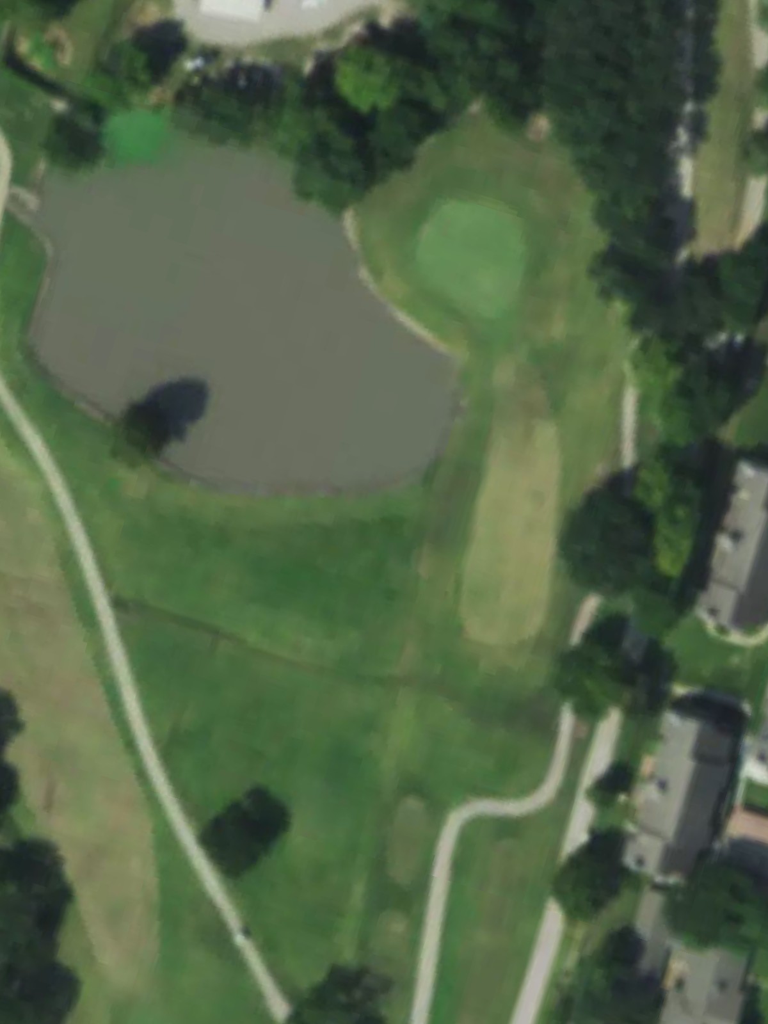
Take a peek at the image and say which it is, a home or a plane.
home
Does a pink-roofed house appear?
No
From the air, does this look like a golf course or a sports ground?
golf course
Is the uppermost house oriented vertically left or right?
right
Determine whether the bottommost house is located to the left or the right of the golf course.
right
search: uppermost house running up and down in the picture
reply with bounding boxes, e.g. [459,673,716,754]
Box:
[693,459,768,634]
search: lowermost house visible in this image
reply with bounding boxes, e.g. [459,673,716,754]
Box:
[653,935,748,1024]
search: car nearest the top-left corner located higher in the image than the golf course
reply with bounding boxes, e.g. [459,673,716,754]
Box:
[182,53,204,70]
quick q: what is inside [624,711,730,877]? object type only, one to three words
house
